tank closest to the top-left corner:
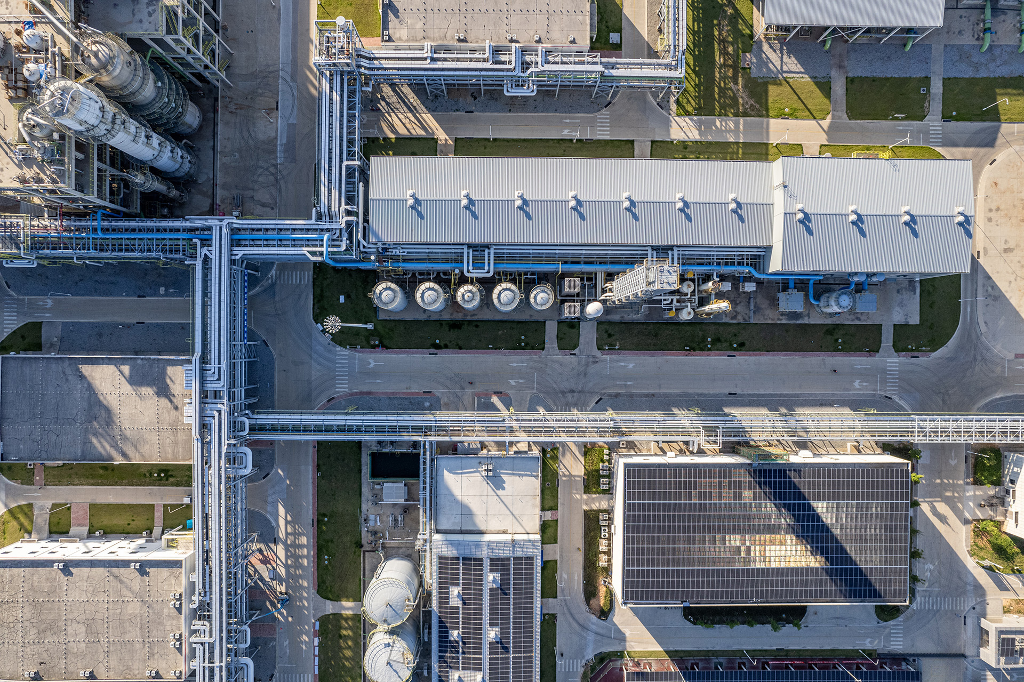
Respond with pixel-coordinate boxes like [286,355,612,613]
[365,280,410,311]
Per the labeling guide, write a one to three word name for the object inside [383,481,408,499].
shed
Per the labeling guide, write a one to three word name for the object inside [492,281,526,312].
storage tank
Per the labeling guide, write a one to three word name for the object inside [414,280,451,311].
storage tank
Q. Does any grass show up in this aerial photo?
Yes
